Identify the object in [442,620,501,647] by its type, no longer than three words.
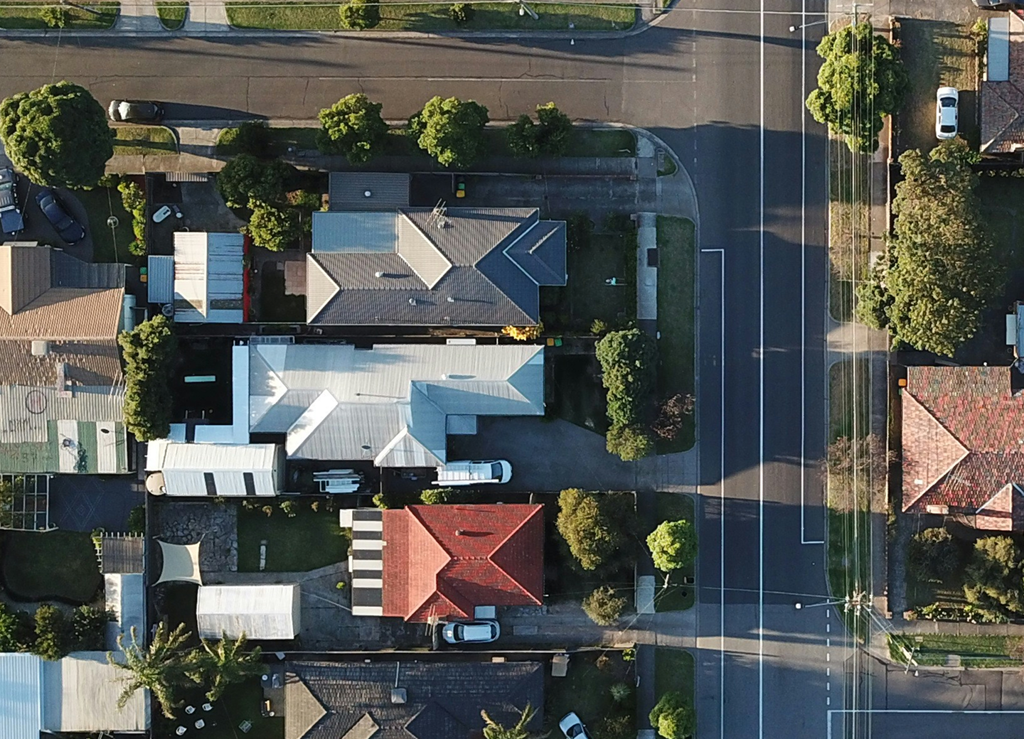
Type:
car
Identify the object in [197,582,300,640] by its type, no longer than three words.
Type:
shed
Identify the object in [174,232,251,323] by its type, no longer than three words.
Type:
building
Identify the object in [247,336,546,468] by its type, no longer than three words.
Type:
house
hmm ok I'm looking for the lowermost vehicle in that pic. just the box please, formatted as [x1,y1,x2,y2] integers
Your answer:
[553,708,590,739]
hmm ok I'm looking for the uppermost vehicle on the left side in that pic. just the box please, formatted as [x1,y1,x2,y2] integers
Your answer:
[107,97,167,124]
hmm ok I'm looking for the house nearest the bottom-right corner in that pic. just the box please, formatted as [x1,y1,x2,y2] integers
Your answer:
[901,361,1024,531]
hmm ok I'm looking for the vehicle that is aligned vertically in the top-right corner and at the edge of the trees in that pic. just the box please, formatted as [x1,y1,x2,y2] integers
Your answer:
[934,83,960,140]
